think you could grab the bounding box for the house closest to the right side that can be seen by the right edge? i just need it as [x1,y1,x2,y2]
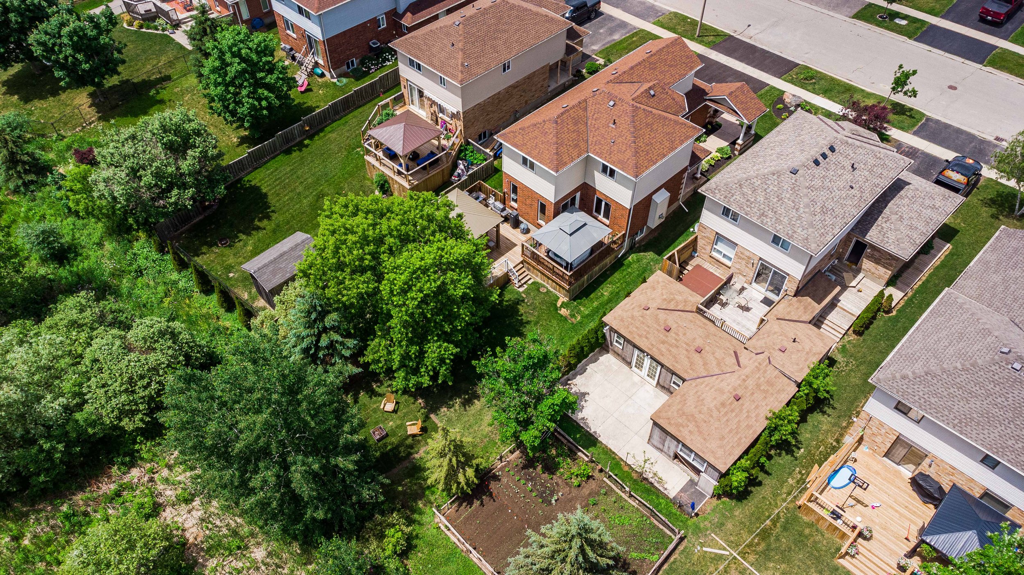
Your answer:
[841,227,1024,521]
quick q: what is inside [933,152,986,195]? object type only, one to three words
truck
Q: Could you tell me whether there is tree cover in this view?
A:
Yes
